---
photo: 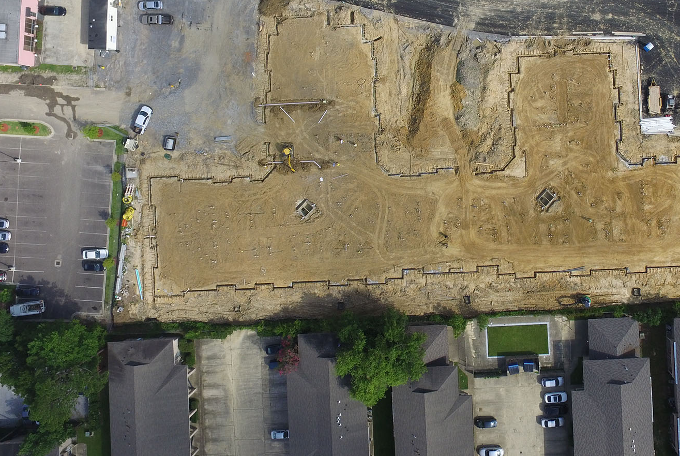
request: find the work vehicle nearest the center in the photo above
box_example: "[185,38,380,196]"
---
[279,148,295,173]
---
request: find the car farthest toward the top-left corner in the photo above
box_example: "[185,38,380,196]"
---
[39,5,67,17]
